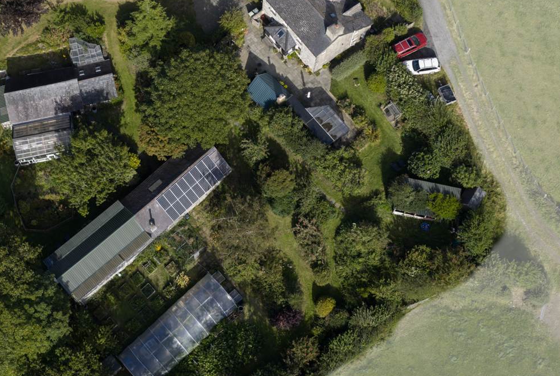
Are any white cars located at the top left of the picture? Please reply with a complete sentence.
No, at the top left of the picture there is no white car.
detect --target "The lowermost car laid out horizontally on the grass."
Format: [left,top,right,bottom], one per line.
[404,56,441,75]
